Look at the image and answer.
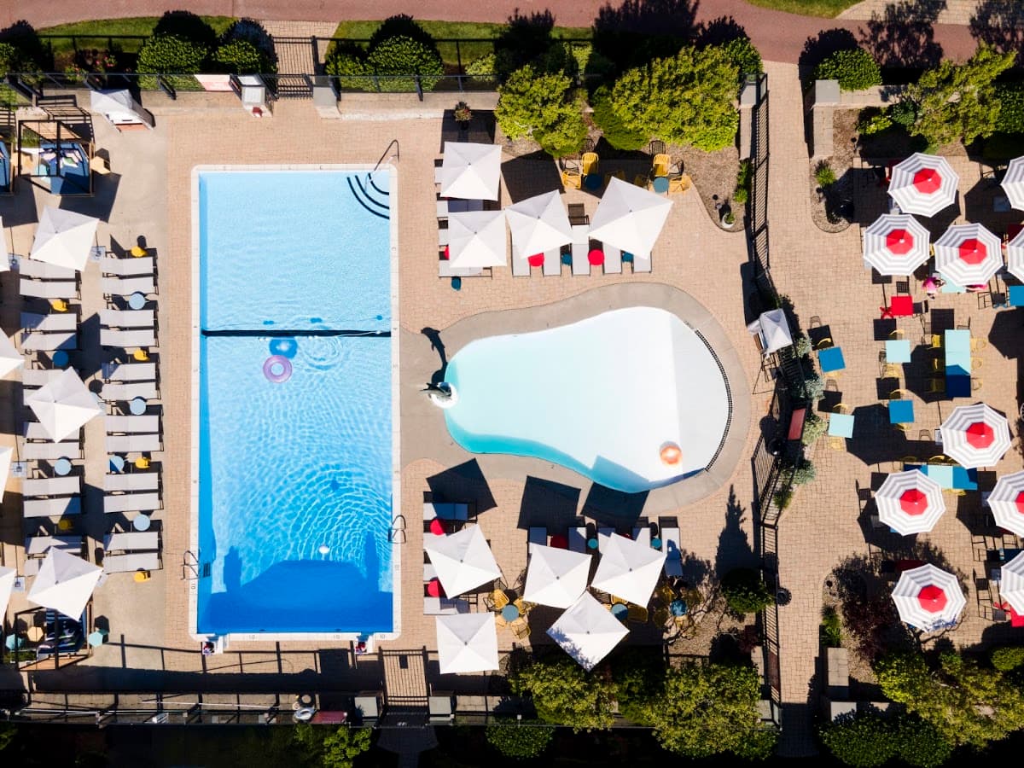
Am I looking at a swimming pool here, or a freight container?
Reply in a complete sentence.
Visible in the photo is a swimming pool.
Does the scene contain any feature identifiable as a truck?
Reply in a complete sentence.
No, the picture doesn't show any truck.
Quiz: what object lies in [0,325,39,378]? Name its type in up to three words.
umbrella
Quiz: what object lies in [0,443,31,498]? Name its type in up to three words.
umbrella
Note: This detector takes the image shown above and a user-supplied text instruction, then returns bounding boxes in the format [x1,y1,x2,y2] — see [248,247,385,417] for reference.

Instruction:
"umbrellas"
[988,157,1024,216]
[591,531,669,610]
[517,540,588,611]
[28,204,110,271]
[23,365,111,444]
[858,213,929,279]
[25,545,108,623]
[546,588,631,672]
[0,443,31,498]
[924,221,1004,289]
[423,521,502,602]
[503,188,576,261]
[439,140,501,201]
[585,175,673,262]
[0,565,33,626]
[0,325,39,378]
[870,466,944,538]
[435,611,499,677]
[930,401,1010,471]
[888,561,965,635]
[983,546,1024,615]
[883,152,958,222]
[974,467,1024,540]
[449,210,509,269]
[993,228,1024,288]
